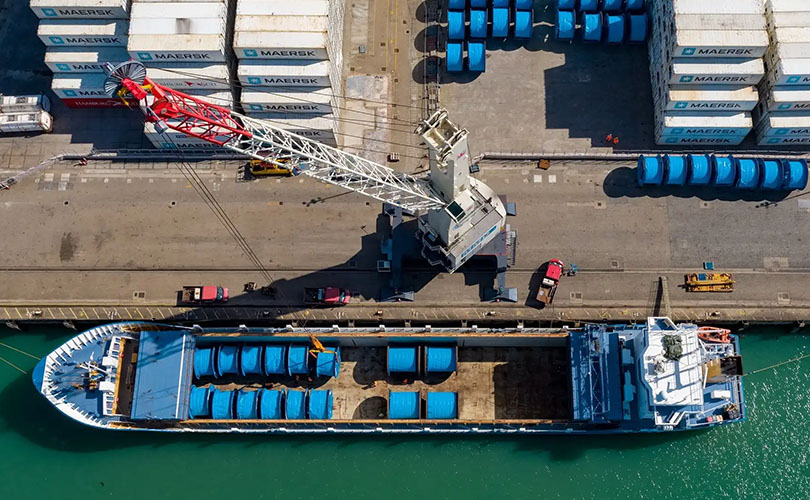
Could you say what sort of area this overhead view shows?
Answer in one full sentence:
What you see here is a port.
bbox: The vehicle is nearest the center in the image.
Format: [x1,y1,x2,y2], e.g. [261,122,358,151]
[301,287,350,305]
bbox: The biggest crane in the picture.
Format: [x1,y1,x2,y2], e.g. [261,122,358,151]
[104,63,522,350]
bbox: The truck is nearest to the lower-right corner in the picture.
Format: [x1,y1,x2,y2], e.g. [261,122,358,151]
[531,258,560,306]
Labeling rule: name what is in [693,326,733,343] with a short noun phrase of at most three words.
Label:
boat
